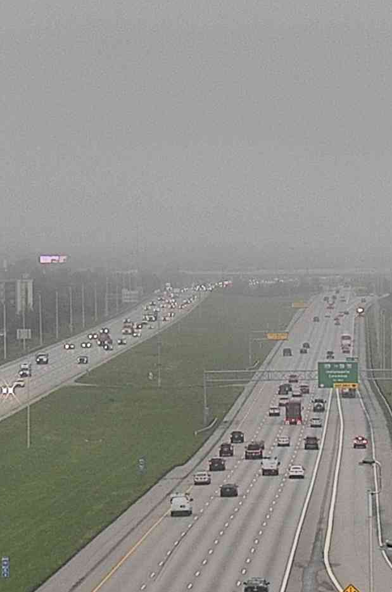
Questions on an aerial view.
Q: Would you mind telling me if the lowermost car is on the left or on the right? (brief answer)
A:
right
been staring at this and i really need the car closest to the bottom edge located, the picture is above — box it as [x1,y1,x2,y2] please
[242,572,272,592]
